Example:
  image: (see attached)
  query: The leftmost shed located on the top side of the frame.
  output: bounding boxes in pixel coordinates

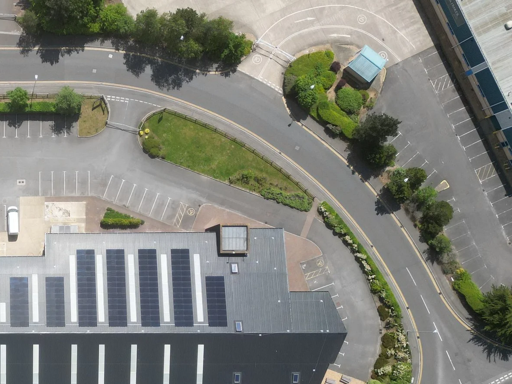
[342,45,389,84]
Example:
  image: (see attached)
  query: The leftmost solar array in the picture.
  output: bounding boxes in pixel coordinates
[10,277,29,328]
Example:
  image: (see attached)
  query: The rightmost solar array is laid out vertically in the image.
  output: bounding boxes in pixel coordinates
[206,275,227,328]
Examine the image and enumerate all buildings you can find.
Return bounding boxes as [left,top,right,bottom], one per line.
[0,224,347,384]
[427,0,512,172]
[342,45,389,84]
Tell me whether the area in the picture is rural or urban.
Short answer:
urban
